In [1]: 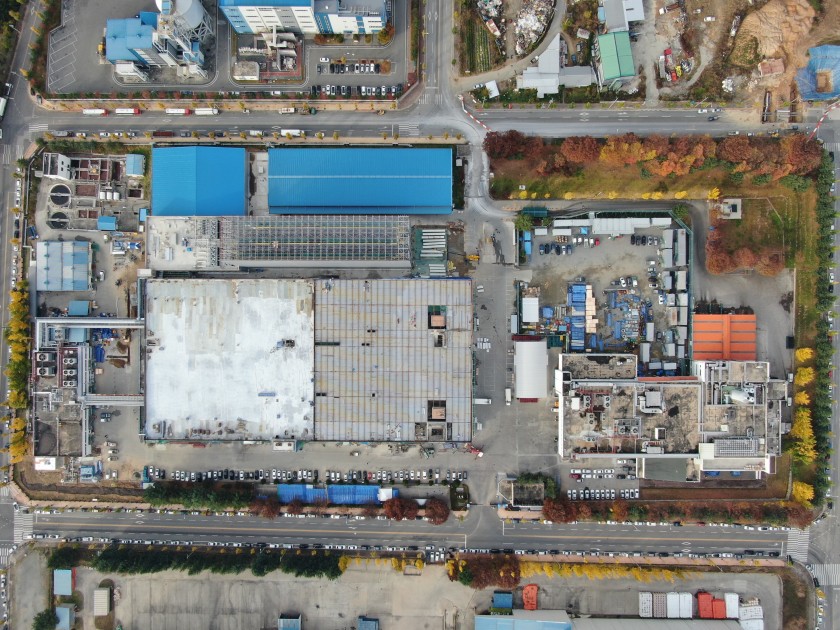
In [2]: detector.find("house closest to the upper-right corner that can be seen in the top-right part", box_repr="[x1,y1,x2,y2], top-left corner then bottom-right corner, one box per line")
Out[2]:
[753,58,785,78]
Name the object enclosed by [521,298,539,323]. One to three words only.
shed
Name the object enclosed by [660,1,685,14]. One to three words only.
vehicle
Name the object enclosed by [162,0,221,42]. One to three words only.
silo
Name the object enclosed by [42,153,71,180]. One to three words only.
house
